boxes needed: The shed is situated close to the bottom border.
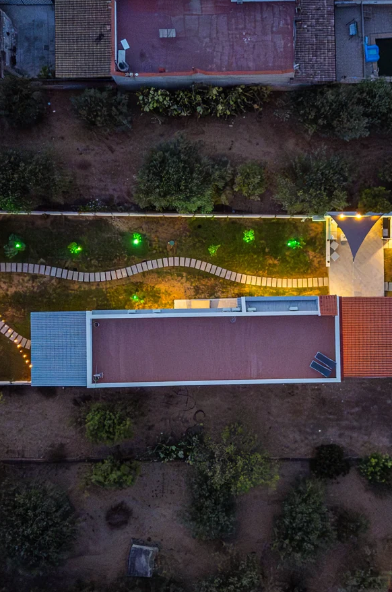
[129,537,159,577]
